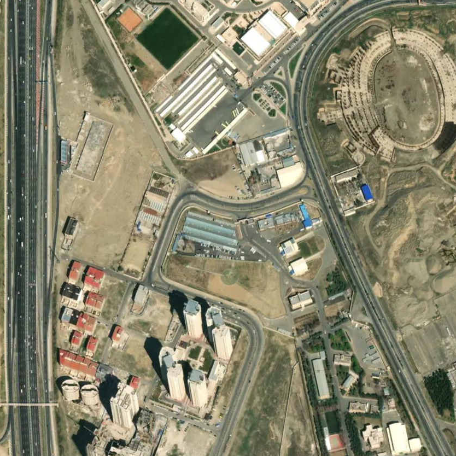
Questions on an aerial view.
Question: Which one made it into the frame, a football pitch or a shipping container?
football pitch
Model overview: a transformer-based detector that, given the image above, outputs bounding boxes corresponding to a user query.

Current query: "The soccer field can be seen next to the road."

[136,8,200,70]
